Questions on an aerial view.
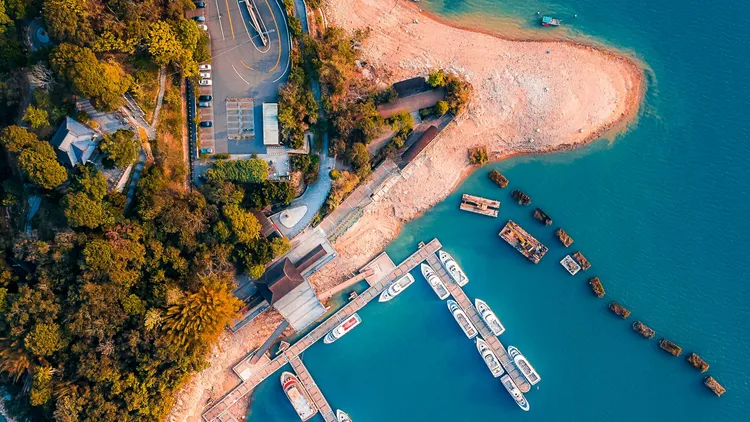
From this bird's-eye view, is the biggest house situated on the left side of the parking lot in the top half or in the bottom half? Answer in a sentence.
The top half of the photo is where the biggest house situated on the left side of the parking lot is.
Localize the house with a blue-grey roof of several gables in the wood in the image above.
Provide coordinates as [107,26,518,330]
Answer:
[51,116,100,166]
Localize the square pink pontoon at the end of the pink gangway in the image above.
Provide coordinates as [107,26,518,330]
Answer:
[360,251,393,283]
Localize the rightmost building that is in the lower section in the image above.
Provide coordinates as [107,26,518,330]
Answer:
[293,244,327,274]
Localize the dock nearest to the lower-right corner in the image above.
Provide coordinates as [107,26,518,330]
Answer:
[422,257,529,392]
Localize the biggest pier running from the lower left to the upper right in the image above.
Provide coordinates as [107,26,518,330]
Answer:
[201,239,441,418]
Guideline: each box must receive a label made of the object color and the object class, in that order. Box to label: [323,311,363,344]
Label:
white boat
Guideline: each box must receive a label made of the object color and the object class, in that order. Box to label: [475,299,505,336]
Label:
white boat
